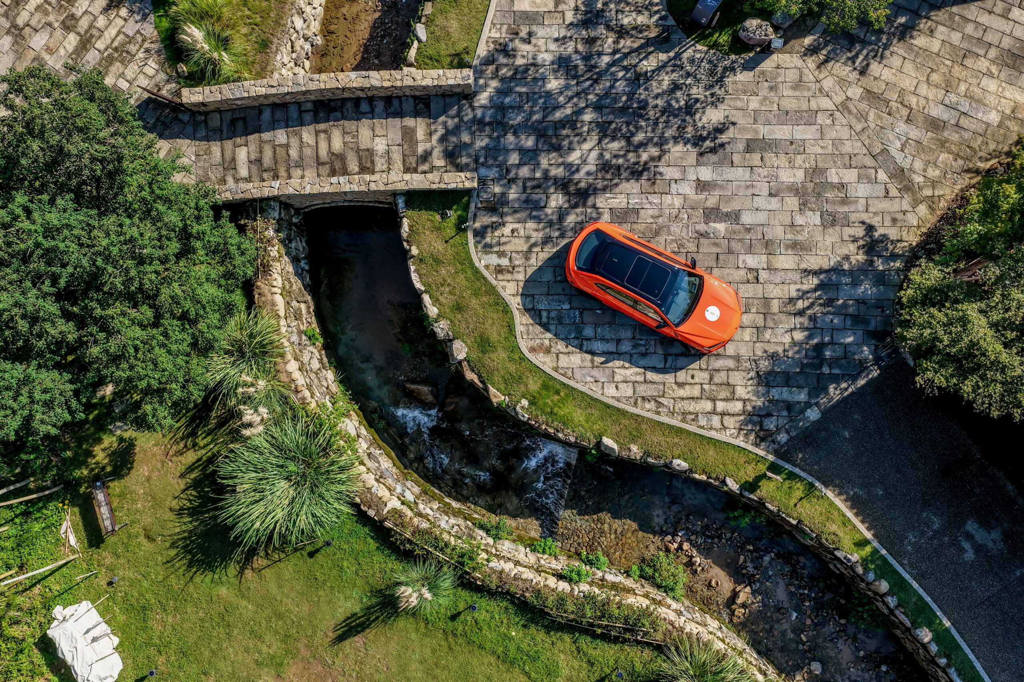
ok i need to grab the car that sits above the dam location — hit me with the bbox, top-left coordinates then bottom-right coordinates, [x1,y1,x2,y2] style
[568,221,740,350]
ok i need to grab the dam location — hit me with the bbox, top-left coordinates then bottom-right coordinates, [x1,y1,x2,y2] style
[543,451,581,542]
